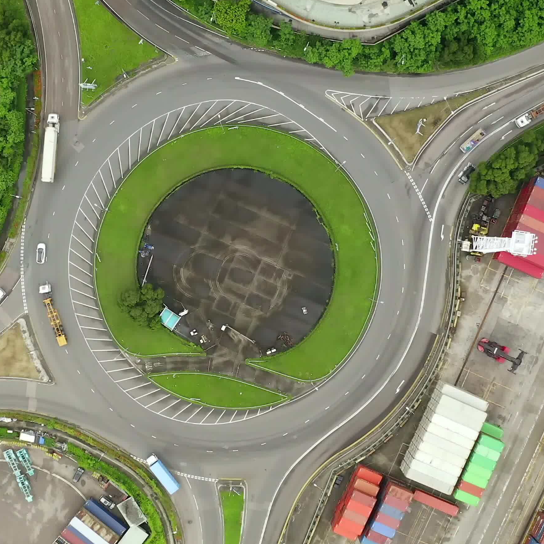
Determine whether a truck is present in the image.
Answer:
Yes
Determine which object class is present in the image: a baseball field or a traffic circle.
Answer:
traffic circle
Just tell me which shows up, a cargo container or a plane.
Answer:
cargo container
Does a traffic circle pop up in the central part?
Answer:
Yes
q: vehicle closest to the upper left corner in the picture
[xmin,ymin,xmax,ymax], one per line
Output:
[48,115,60,141]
